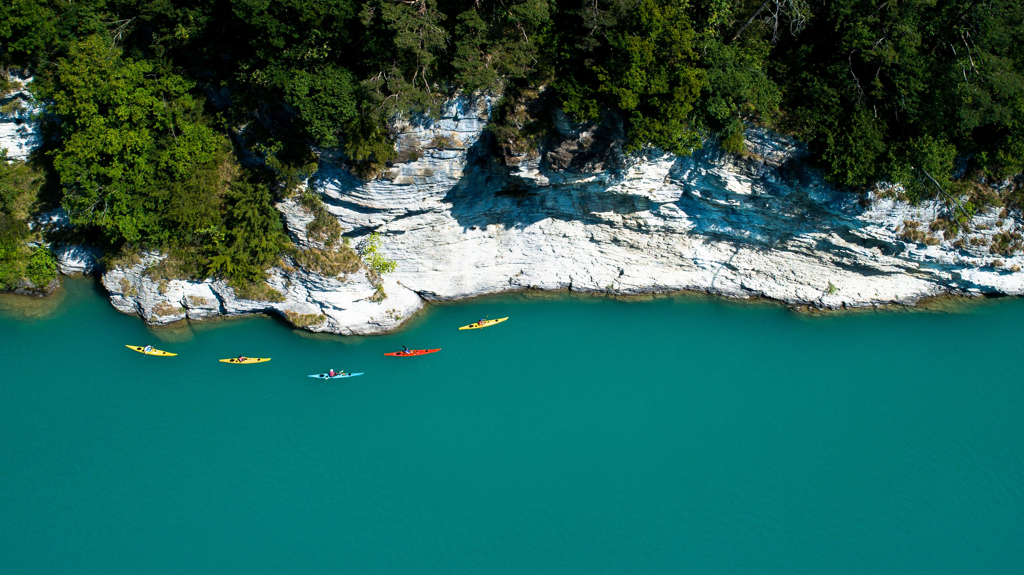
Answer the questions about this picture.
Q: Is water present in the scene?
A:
Yes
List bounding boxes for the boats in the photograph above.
[459,317,509,330]
[308,372,364,379]
[126,346,178,356]
[220,358,271,364]
[384,349,441,357]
